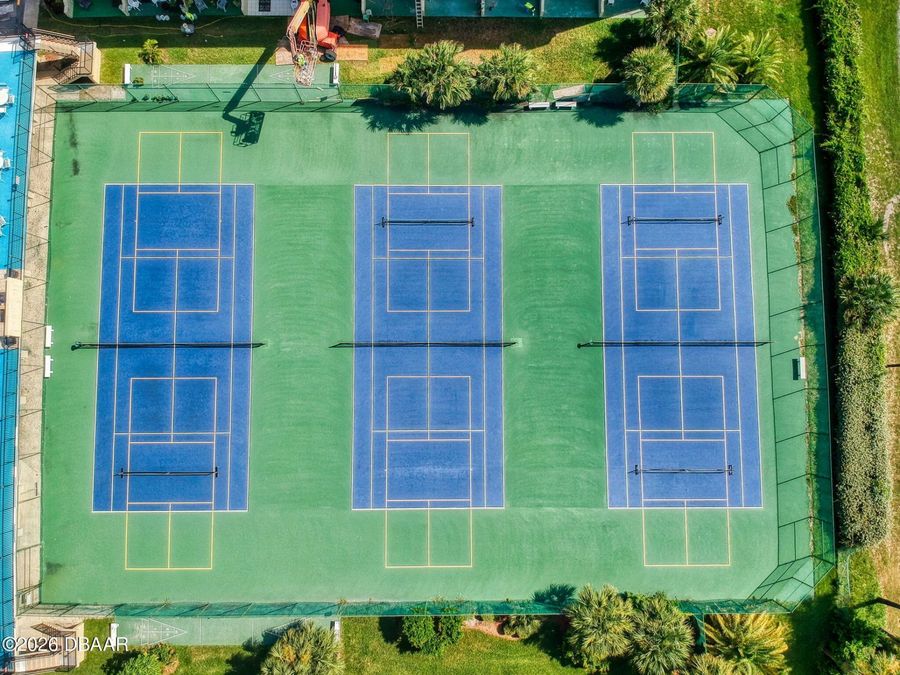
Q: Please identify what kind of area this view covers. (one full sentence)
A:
This image shows a sports ground.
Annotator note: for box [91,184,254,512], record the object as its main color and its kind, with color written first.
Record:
blue tennis court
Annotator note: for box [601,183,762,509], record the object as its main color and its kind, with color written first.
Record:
blue tennis court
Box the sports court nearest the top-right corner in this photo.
[632,132,721,310]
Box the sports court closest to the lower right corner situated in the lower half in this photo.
[639,376,730,566]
